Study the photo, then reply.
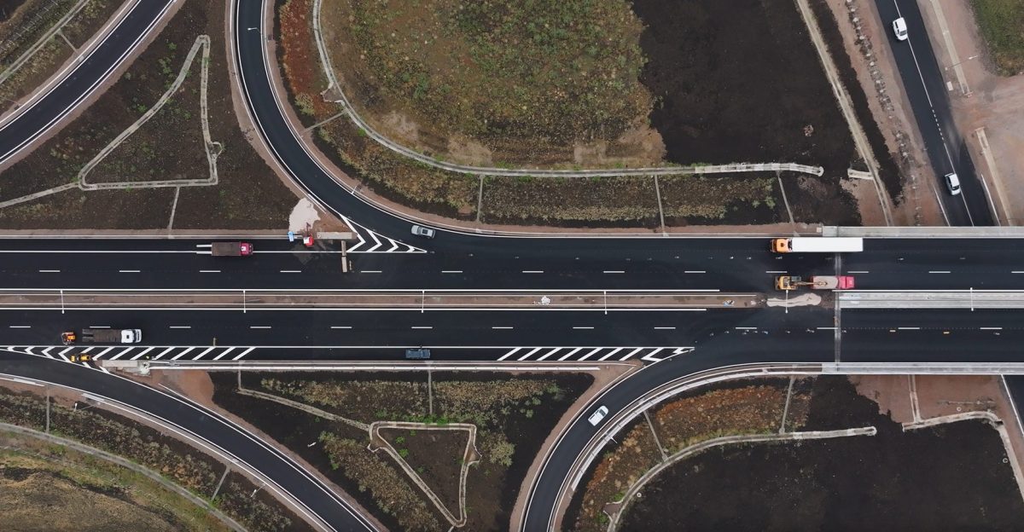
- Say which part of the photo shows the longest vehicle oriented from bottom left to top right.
bottom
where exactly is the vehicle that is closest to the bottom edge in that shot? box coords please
[586,404,610,428]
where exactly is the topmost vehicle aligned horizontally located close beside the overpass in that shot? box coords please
[770,237,863,253]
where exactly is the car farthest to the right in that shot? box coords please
[943,171,959,196]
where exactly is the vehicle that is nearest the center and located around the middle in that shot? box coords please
[411,225,436,238]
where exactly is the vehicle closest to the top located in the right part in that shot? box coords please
[891,15,908,41]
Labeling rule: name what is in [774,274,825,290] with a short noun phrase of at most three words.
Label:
work vehicle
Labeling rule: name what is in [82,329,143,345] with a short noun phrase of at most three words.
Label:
vehicle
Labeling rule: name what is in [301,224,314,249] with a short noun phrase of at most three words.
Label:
vehicle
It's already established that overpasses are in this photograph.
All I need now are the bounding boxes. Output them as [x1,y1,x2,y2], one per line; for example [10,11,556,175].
[822,226,1024,375]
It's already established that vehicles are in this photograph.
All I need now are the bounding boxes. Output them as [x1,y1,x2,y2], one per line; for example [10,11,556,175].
[586,404,610,428]
[301,224,314,249]
[406,347,430,359]
[810,275,856,291]
[774,274,825,290]
[62,332,75,344]
[770,237,863,253]
[943,171,959,196]
[70,353,89,362]
[82,329,143,345]
[196,241,254,256]
[411,225,436,238]
[891,15,908,41]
